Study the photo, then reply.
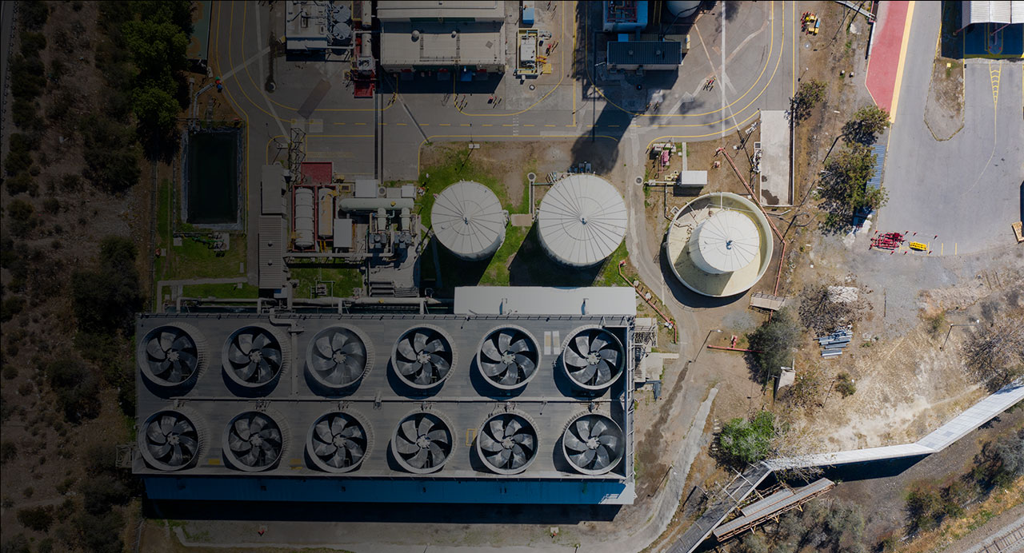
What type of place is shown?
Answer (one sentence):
This image shows an industrial area.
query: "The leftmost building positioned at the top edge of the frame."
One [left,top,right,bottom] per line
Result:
[286,0,331,52]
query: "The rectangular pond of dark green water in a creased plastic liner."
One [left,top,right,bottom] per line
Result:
[181,124,245,232]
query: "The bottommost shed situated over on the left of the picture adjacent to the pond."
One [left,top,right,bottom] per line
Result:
[258,216,288,289]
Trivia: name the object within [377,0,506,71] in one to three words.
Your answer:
building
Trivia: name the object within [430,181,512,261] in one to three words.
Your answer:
storage tank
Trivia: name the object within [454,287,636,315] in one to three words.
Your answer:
building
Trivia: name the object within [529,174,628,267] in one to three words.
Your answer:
storage tank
